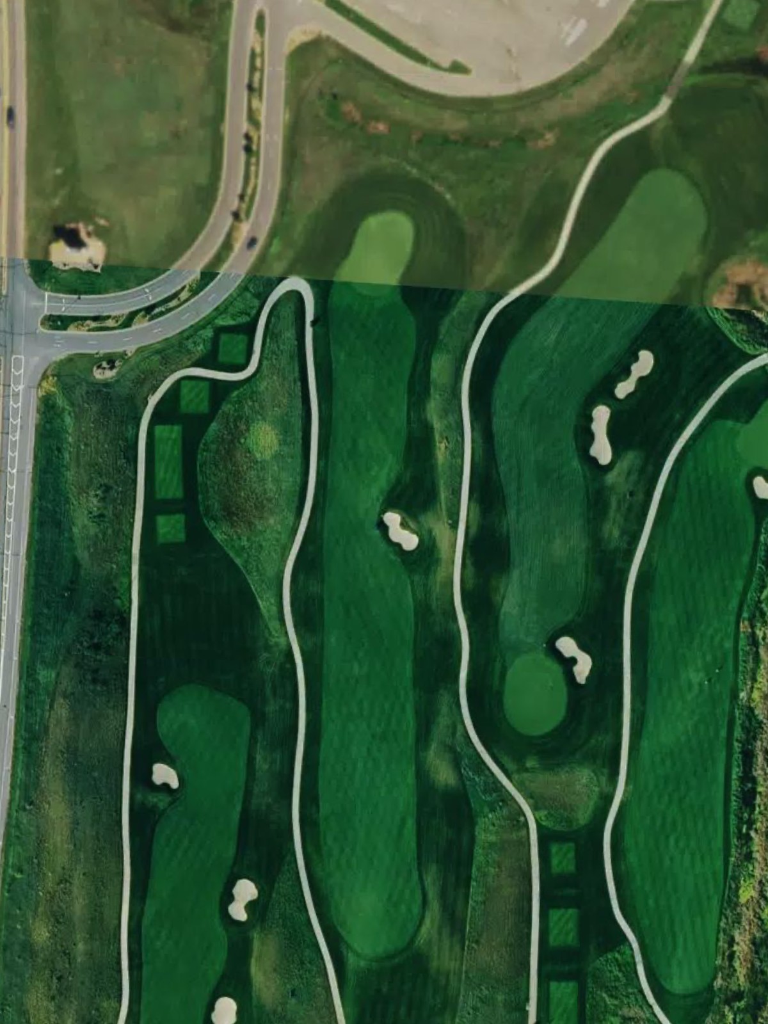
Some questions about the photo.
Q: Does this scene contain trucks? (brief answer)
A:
No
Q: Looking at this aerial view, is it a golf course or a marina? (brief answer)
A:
golf course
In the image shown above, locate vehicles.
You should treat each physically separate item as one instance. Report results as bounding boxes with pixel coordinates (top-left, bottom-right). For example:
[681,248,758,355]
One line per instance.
[7,108,14,123]
[246,235,257,250]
